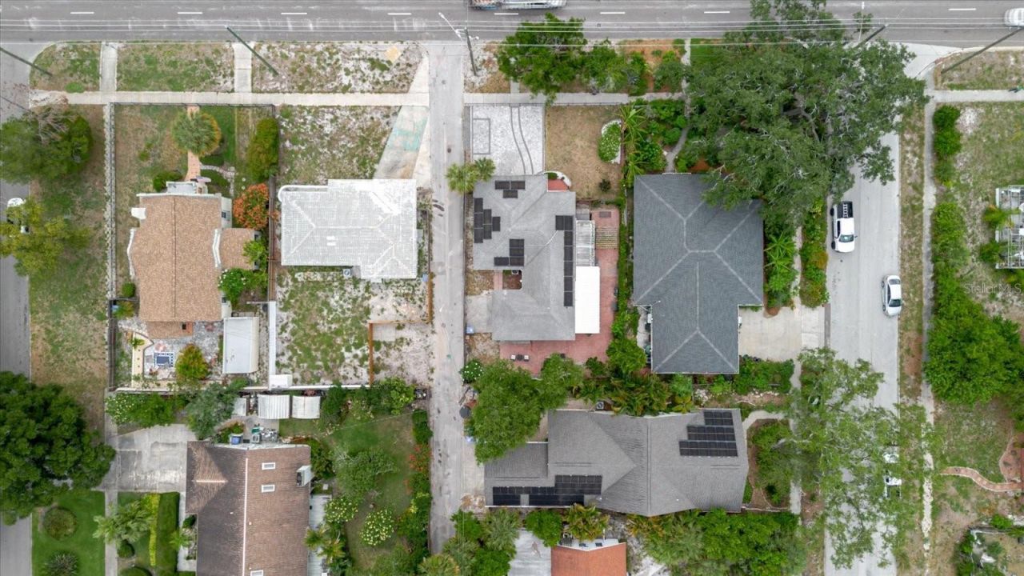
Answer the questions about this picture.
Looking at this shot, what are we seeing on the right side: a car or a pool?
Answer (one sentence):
The one visible on the right side is a car.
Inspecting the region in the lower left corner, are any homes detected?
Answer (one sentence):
Yes, a home is visible in the lower left corner.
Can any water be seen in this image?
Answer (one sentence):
No, the scene doesn't show any water.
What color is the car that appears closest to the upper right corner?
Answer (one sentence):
The color of the car that appears closest to the upper right corner is white.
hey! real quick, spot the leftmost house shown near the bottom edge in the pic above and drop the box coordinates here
[180,439,324,576]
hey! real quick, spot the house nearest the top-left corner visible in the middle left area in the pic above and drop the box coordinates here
[125,183,262,338]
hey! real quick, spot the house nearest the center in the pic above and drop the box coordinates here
[473,175,576,341]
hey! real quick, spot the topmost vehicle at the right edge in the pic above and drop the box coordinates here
[1002,3,1024,27]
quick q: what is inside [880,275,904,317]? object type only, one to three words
car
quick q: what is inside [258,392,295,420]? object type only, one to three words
shed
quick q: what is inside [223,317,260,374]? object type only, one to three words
shed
